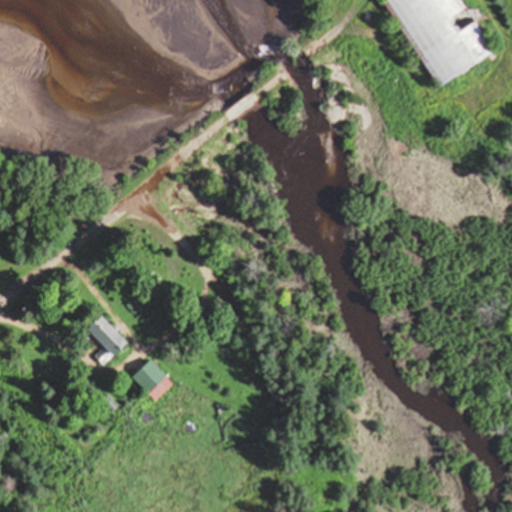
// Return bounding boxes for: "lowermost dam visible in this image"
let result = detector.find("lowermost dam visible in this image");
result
[97,70,293,228]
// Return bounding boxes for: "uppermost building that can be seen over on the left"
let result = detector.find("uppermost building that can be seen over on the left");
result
[88,316,128,356]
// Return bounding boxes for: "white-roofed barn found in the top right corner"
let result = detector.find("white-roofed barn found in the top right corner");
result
[386,0,498,87]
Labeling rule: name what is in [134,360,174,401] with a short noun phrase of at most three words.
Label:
building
